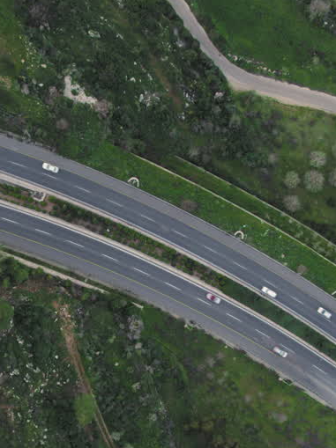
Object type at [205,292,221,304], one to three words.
vehicle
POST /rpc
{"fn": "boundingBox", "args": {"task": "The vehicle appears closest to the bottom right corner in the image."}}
[273,345,289,357]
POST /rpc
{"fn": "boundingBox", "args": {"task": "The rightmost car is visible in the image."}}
[317,306,333,319]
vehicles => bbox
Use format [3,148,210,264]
[273,345,289,357]
[42,162,58,173]
[317,306,333,319]
[261,286,279,299]
[205,292,221,304]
